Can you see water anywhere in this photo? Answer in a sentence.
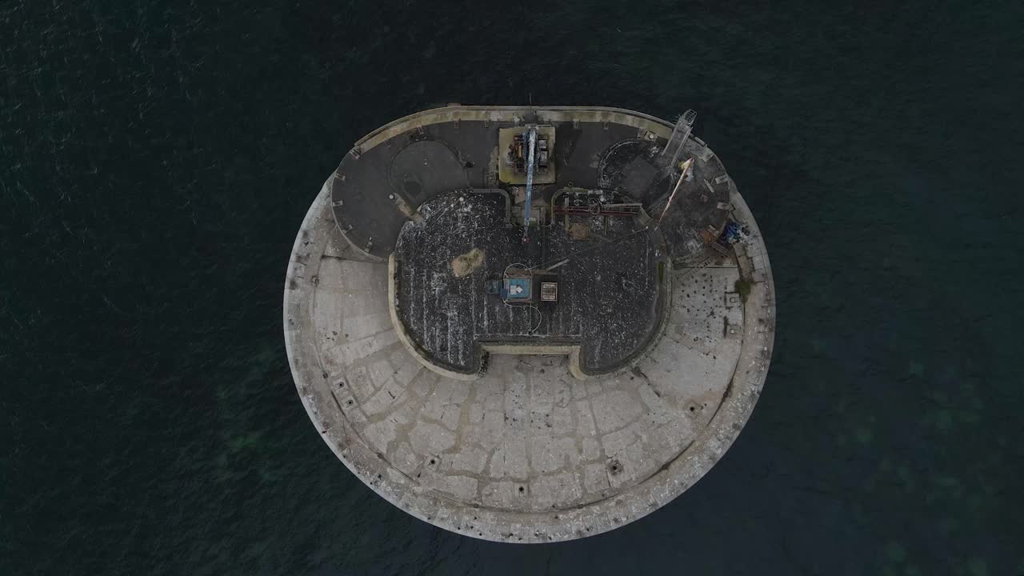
Yes, there's water in this view.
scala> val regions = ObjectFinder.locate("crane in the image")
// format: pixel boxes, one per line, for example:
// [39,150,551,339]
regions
[510,120,552,243]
